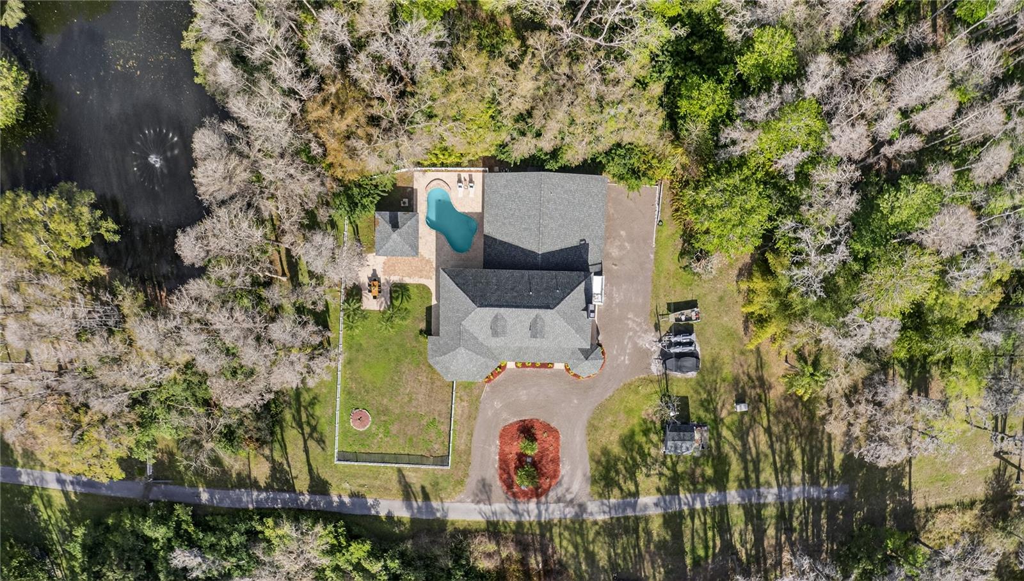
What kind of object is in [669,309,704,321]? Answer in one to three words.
boat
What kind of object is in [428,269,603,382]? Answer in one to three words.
house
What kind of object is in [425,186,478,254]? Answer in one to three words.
swimming pool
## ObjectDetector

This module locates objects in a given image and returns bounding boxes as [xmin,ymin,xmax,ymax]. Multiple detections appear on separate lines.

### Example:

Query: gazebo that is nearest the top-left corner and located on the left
[376,212,419,257]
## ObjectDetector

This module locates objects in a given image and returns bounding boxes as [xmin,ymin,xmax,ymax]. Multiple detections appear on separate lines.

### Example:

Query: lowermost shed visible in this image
[662,423,697,455]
